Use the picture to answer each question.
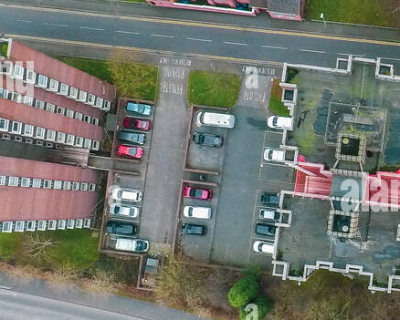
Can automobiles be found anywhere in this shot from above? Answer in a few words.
Yes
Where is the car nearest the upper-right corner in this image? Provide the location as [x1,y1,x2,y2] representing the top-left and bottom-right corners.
[266,112,290,129]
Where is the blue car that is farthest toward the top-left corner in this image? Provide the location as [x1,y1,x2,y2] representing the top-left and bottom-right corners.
[124,101,152,115]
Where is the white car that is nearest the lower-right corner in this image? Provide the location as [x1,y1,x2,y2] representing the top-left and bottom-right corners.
[250,239,274,254]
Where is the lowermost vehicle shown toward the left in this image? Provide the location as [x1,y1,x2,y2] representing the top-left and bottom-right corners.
[111,237,148,253]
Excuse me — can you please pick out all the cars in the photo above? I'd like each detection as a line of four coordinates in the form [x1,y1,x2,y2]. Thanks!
[266,112,290,129]
[110,187,141,202]
[121,116,150,130]
[255,190,279,205]
[104,220,136,235]
[124,101,152,115]
[182,204,211,219]
[116,131,145,145]
[250,239,274,254]
[253,223,276,237]
[262,145,283,161]
[108,202,138,218]
[182,186,212,201]
[191,130,221,146]
[115,144,143,158]
[254,205,278,221]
